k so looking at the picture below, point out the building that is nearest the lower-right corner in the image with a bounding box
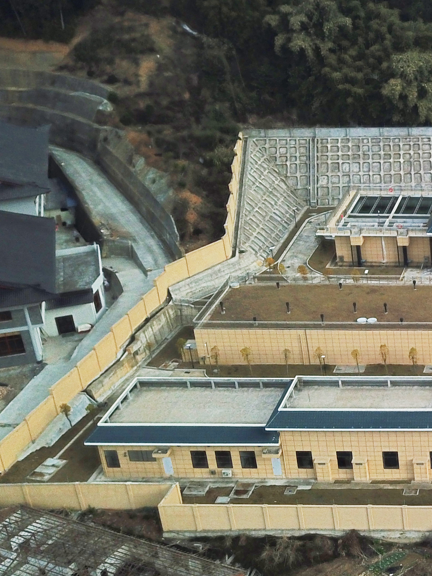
[264,375,432,487]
